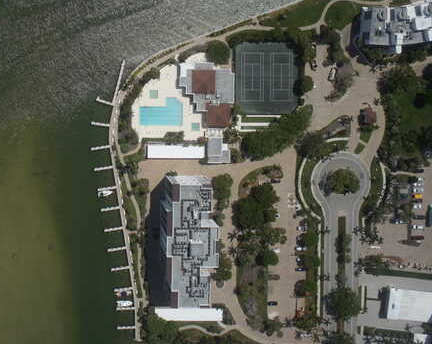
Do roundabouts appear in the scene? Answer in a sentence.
Yes, the image includes a roundabout.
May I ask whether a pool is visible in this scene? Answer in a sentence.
Yes, I can see a pool in this picture.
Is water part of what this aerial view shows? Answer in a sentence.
Yes, there's water in this view.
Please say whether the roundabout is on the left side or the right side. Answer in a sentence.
It is on the right.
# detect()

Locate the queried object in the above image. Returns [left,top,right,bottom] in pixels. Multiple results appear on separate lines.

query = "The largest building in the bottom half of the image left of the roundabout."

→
[157,177,218,308]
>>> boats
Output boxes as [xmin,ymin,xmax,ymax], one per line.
[115,301,133,307]
[114,292,132,297]
[96,191,112,197]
